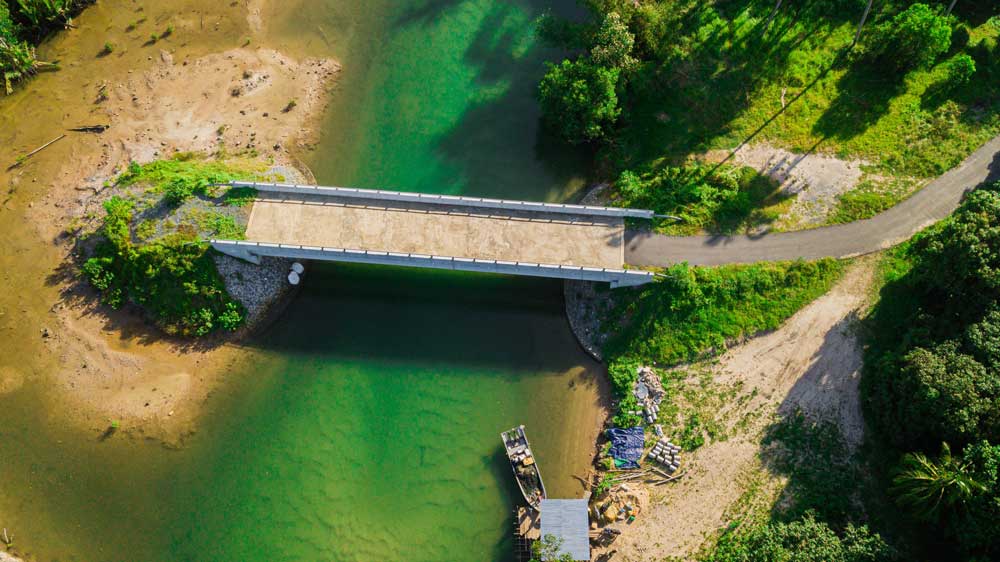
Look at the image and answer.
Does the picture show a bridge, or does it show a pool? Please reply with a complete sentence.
It is a bridge that can be seen here.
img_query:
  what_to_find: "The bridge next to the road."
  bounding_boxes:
[188,180,680,289]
